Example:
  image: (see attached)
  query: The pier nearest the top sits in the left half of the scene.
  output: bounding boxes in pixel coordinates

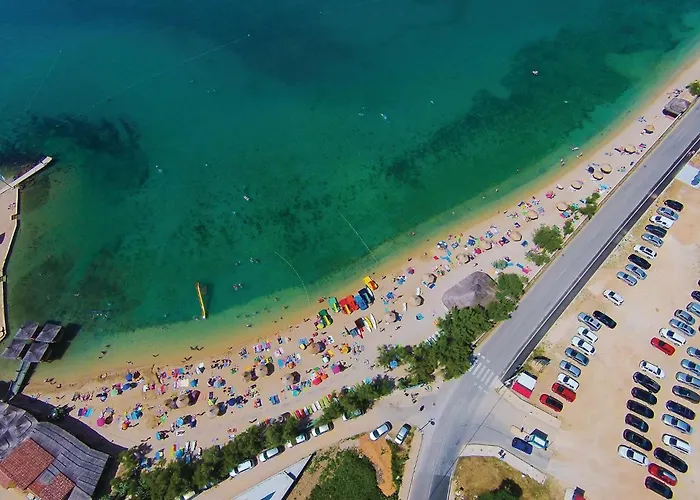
[0,154,53,343]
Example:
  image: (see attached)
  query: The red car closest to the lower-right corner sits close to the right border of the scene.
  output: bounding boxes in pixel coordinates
[647,463,677,486]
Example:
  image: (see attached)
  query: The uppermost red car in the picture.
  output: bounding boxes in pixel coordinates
[649,338,676,356]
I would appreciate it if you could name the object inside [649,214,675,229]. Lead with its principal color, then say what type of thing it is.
white vehicle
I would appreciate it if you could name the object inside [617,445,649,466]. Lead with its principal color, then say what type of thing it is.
white car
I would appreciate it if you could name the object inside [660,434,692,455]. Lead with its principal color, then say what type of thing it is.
white car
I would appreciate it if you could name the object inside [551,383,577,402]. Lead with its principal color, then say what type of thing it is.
red car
